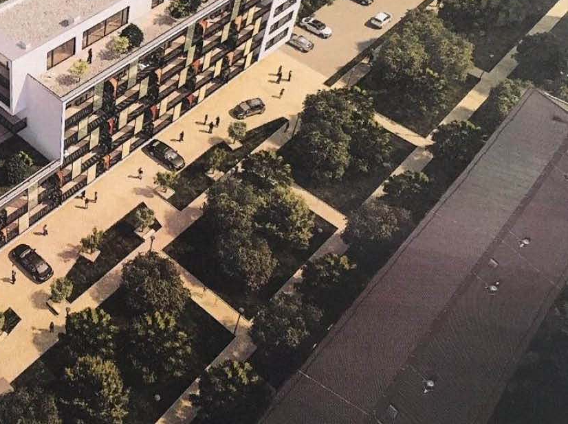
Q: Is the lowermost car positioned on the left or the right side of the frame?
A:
left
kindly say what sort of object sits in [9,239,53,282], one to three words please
car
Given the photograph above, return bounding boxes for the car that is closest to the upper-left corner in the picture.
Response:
[145,135,186,166]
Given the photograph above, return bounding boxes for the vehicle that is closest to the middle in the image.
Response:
[231,89,267,117]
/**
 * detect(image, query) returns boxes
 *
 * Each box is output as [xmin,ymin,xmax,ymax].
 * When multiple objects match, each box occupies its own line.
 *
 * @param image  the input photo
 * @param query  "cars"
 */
[231,89,267,117]
[145,135,186,166]
[291,28,325,52]
[369,7,393,25]
[305,13,342,37]
[9,239,53,282]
